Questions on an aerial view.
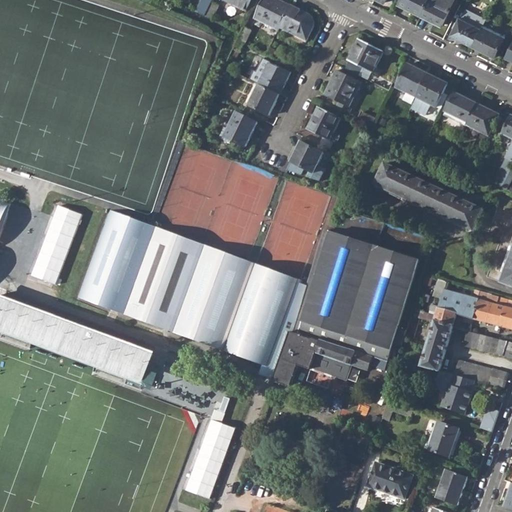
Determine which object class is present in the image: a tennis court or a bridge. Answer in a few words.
tennis court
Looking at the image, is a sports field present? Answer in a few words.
Yes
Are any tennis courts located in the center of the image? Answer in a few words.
Yes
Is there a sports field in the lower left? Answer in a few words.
Yes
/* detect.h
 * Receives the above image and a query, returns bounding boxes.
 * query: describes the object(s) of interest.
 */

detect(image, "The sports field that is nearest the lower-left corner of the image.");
[0,341,198,512]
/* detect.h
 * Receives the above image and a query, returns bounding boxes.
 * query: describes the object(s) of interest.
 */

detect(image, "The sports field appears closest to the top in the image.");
[0,0,206,216]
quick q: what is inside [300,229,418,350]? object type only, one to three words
building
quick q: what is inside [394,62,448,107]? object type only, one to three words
house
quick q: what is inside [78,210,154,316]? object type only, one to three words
building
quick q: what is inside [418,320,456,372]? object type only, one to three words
house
